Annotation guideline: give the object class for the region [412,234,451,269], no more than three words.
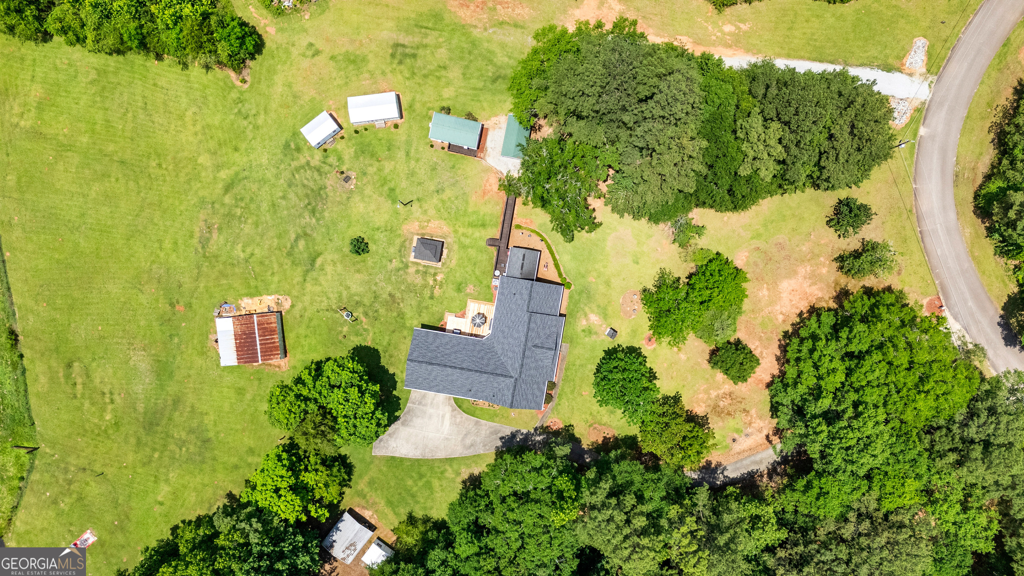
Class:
gazebo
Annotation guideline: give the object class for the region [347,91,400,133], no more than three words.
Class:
shed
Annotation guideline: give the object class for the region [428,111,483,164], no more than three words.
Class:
house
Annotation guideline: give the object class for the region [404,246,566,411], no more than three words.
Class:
house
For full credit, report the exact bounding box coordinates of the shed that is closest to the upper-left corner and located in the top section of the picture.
[300,110,341,151]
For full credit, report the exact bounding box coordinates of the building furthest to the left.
[216,313,288,366]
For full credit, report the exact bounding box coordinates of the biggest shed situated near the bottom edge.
[321,508,374,565]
